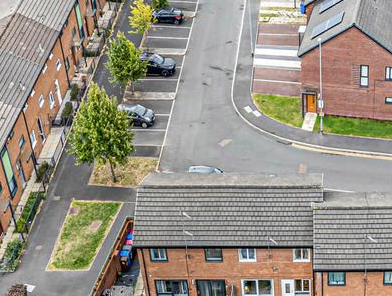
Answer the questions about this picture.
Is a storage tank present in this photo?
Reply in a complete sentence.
No, the scene contains no storage tank.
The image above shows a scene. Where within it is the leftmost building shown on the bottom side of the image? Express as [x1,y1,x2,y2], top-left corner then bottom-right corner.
[132,172,318,296]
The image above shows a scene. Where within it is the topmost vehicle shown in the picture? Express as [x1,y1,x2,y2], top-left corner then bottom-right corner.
[150,2,188,22]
